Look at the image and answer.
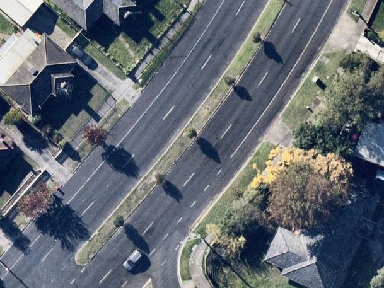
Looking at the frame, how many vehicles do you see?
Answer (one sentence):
The photo contains 2 vehicles.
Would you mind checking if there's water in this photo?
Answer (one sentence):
No, the picture contains no water.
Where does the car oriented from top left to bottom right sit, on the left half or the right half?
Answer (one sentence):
The car oriented from top left to bottom right appears in the left half of the scene.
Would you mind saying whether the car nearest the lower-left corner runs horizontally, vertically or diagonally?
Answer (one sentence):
What the image shows is the car nearest the lower-left corner lying diagonally.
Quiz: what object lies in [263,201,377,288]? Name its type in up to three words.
house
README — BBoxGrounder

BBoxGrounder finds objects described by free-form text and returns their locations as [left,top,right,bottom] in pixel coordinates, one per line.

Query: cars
[122,247,144,274]
[72,45,97,70]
